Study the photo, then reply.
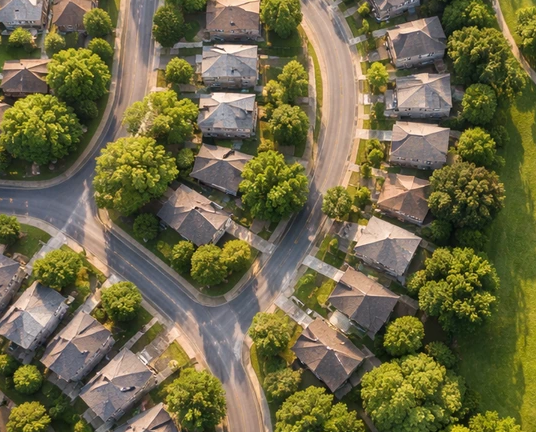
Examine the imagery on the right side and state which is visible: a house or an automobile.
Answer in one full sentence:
It is a house that can be seen on the right side.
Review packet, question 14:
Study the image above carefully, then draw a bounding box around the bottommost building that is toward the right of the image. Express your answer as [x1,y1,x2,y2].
[290,318,364,389]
